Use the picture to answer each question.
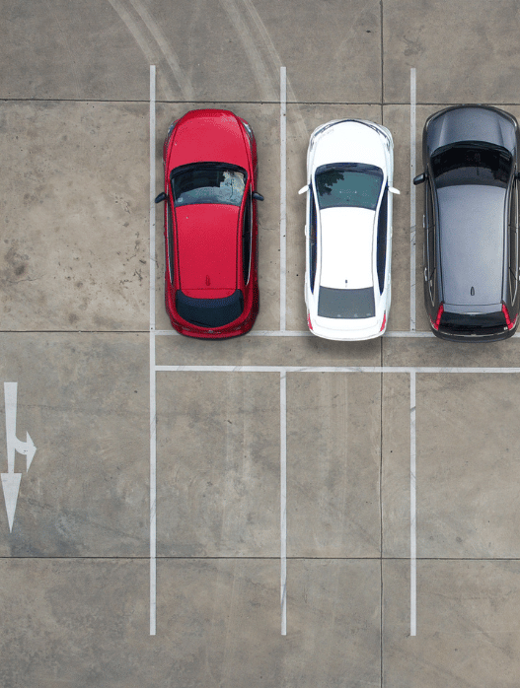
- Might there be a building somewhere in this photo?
No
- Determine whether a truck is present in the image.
No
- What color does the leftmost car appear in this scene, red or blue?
red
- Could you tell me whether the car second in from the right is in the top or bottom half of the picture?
top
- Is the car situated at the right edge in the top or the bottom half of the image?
top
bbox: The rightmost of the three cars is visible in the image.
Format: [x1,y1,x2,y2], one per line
[414,105,520,342]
